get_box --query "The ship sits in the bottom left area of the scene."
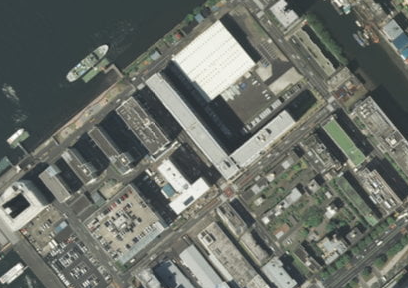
[0,263,27,283]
